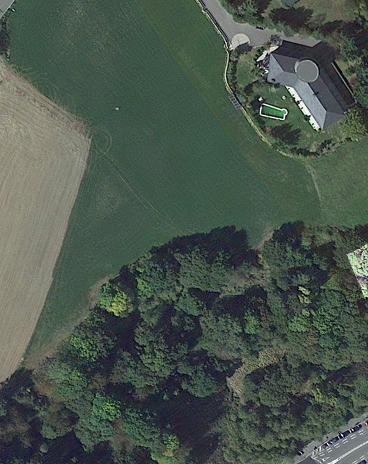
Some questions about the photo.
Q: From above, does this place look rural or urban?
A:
rural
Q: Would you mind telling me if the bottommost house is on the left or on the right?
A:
right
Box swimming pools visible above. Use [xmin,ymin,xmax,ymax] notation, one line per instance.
[261,106,286,119]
